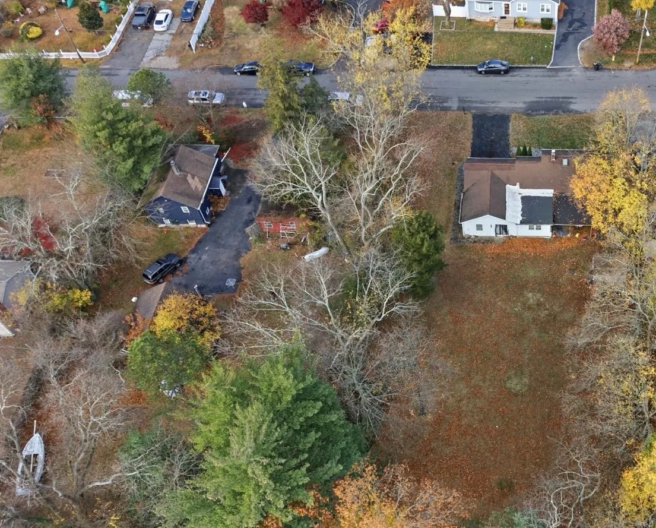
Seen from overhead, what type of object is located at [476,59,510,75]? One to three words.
car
